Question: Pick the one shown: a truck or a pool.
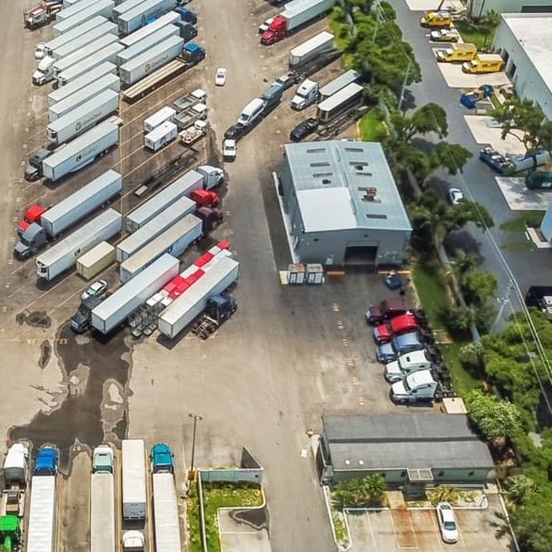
truck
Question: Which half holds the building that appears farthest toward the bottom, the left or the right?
right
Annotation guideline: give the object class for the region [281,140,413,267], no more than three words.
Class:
building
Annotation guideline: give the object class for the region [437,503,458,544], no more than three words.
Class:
car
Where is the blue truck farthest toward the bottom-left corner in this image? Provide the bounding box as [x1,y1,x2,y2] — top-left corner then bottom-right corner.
[34,437,60,499]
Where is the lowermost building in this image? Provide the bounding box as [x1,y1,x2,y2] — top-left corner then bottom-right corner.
[322,413,491,504]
